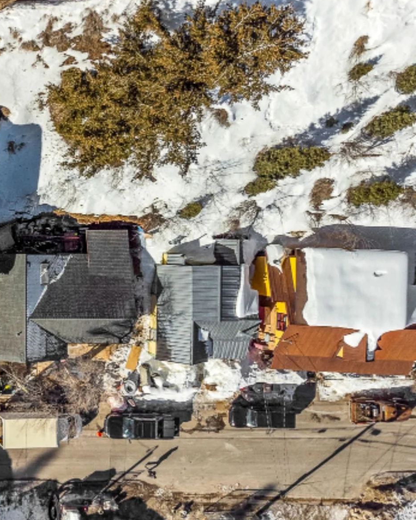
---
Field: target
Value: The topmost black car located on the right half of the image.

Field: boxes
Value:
[227,401,299,434]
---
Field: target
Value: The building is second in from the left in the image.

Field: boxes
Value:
[144,239,261,365]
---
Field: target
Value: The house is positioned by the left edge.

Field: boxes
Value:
[0,230,137,364]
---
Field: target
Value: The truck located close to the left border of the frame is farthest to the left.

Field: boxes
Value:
[0,414,77,450]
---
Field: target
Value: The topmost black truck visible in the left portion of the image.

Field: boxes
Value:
[105,411,181,445]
